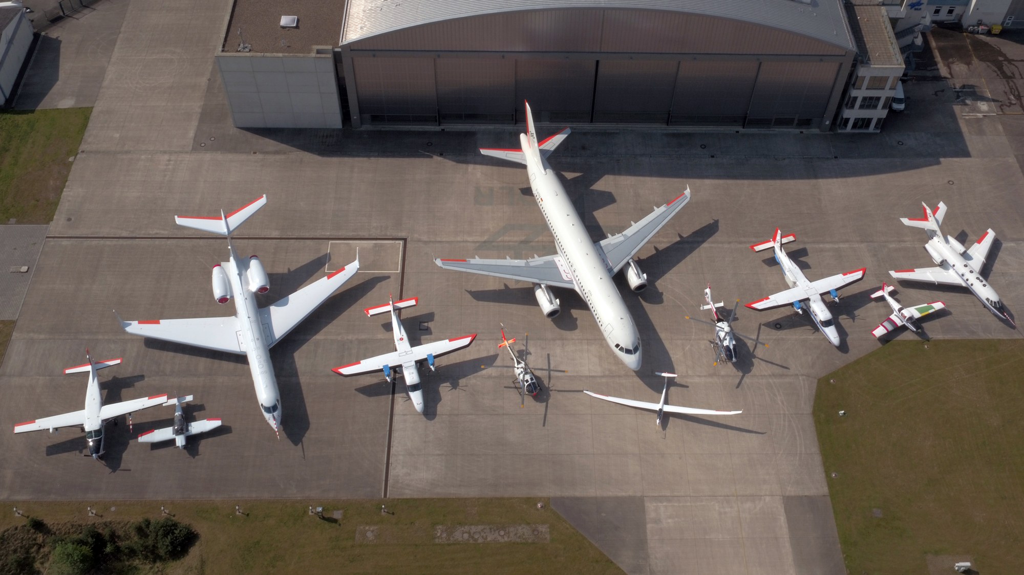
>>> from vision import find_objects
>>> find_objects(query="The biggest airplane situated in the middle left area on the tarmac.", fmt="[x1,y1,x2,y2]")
[112,195,359,440]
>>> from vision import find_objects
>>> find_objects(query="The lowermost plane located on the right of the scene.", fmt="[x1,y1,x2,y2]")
[583,372,744,432]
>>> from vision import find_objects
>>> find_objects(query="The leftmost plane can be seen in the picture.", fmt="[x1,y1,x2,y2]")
[14,350,167,460]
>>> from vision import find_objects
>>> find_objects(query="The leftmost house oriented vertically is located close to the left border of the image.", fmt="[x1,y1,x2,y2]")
[0,8,45,106]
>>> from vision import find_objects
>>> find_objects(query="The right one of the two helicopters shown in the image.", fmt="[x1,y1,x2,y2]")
[685,283,770,365]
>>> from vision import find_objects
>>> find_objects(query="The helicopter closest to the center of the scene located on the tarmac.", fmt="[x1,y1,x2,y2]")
[482,322,568,407]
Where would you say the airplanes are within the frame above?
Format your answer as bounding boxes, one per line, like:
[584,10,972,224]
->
[871,283,944,338]
[583,372,744,432]
[14,350,167,460]
[742,230,864,346]
[139,391,221,450]
[112,195,359,440]
[891,201,1013,328]
[434,101,690,370]
[331,294,476,413]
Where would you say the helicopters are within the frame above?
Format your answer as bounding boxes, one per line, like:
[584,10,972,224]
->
[685,283,770,365]
[482,322,568,407]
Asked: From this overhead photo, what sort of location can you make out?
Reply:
airport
